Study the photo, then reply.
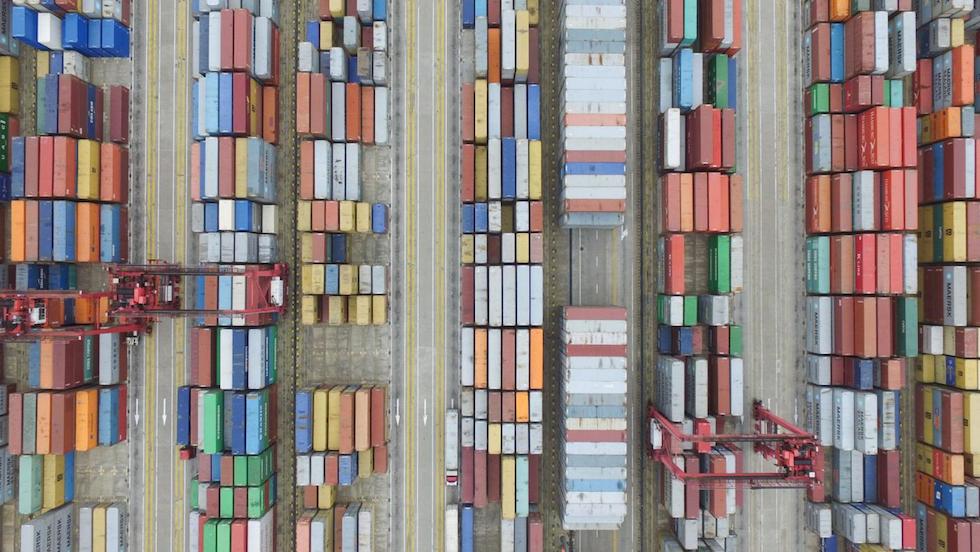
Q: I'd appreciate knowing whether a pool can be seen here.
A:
No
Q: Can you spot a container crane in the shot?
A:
Yes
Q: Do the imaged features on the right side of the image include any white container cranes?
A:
No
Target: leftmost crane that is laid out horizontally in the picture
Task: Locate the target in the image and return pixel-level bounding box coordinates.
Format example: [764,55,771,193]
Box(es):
[0,278,155,343]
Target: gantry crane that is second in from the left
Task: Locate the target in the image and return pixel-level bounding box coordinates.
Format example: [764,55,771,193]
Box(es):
[112,258,292,322]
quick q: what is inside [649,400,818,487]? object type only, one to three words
container crane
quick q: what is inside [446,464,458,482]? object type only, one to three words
vehicle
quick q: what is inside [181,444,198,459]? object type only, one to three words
vehicle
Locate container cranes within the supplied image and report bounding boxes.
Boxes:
[112,258,292,322]
[649,400,818,487]
[0,278,155,343]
